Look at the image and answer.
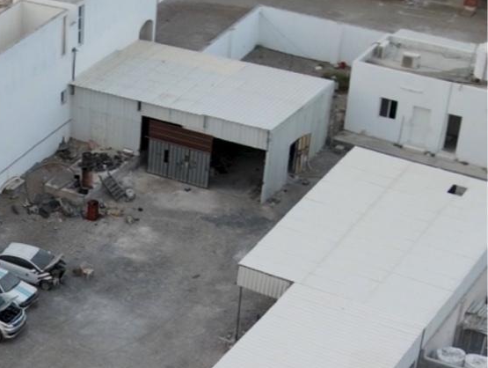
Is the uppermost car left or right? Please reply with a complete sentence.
The uppermost car is on the left side of the image.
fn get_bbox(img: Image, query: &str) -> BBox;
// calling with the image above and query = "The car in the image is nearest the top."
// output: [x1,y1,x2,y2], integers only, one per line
[0,243,68,288]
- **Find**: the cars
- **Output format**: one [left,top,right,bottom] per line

[0,297,29,341]
[0,269,40,310]
[0,243,68,288]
